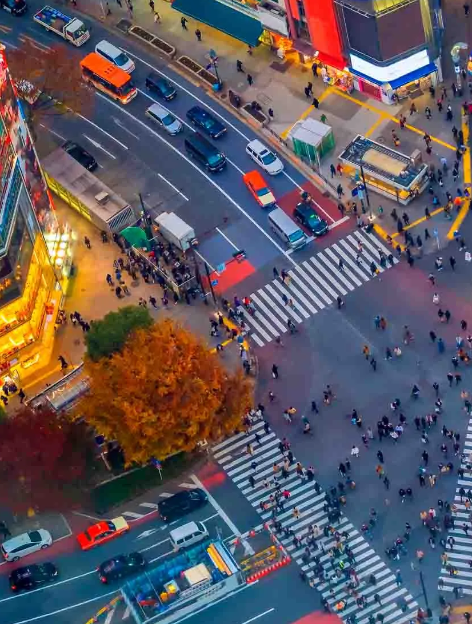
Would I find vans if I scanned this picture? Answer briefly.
Yes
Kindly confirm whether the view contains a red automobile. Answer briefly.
Yes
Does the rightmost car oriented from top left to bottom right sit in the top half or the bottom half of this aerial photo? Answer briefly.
top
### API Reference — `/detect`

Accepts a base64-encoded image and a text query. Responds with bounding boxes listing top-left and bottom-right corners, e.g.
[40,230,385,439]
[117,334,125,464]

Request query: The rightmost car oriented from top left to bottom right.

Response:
[293,200,330,237]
